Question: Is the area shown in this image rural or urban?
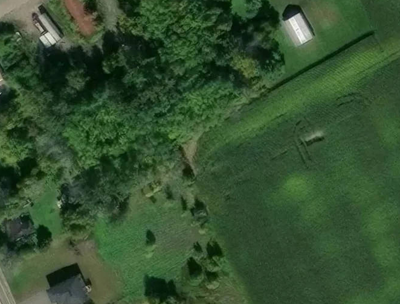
rural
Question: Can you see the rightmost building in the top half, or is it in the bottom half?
top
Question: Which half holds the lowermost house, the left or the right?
left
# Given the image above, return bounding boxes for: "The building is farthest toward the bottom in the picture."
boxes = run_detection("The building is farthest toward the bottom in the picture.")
[46,272,91,304]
